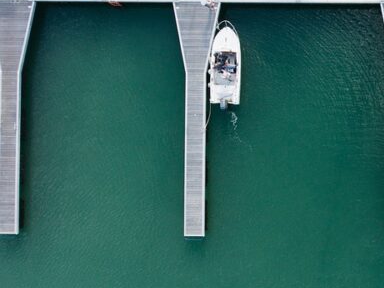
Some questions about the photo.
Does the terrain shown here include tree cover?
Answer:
No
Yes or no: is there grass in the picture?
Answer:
No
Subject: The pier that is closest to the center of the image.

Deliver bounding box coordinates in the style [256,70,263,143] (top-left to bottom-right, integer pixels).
[173,3,219,238]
